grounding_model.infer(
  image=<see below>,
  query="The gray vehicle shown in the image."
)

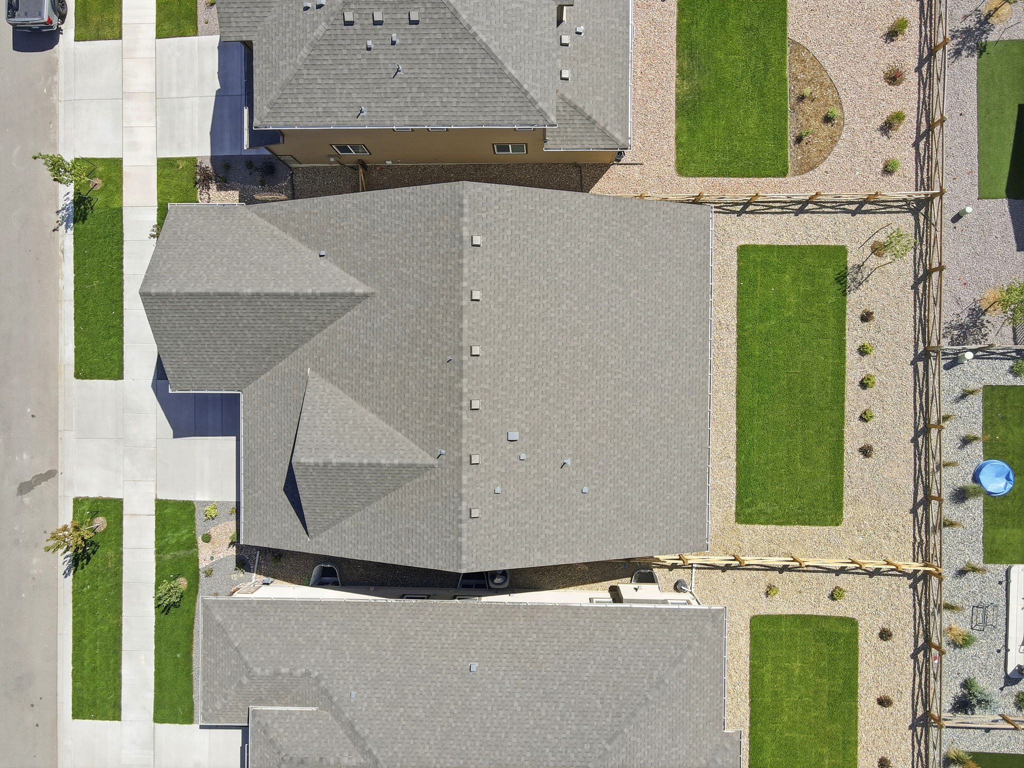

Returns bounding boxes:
[3,0,69,32]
